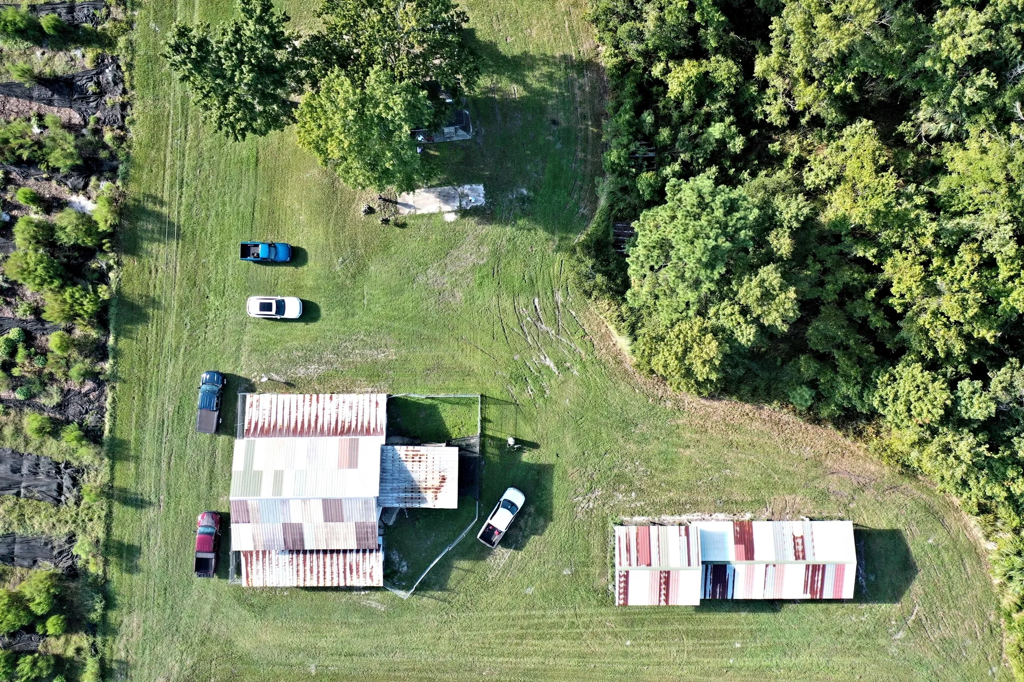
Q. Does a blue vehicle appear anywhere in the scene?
Yes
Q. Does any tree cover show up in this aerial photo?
Yes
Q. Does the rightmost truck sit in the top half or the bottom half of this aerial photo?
bottom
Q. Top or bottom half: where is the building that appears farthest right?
bottom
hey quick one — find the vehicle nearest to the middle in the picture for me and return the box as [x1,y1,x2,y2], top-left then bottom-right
[477,484,524,550]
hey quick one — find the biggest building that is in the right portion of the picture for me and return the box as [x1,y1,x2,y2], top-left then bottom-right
[608,512,858,605]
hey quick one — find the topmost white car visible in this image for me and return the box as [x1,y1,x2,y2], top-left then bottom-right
[248,294,304,320]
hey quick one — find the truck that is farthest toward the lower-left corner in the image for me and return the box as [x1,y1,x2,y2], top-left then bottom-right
[194,511,222,575]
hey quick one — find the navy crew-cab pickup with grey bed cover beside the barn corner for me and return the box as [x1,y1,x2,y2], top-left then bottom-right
[195,369,226,434]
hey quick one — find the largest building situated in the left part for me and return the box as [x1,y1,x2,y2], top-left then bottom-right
[229,392,391,588]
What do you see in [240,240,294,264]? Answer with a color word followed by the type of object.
blue truck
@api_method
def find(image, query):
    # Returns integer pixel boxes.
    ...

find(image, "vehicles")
[195,369,226,434]
[240,240,294,264]
[194,511,222,575]
[477,484,524,550]
[248,294,304,320]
